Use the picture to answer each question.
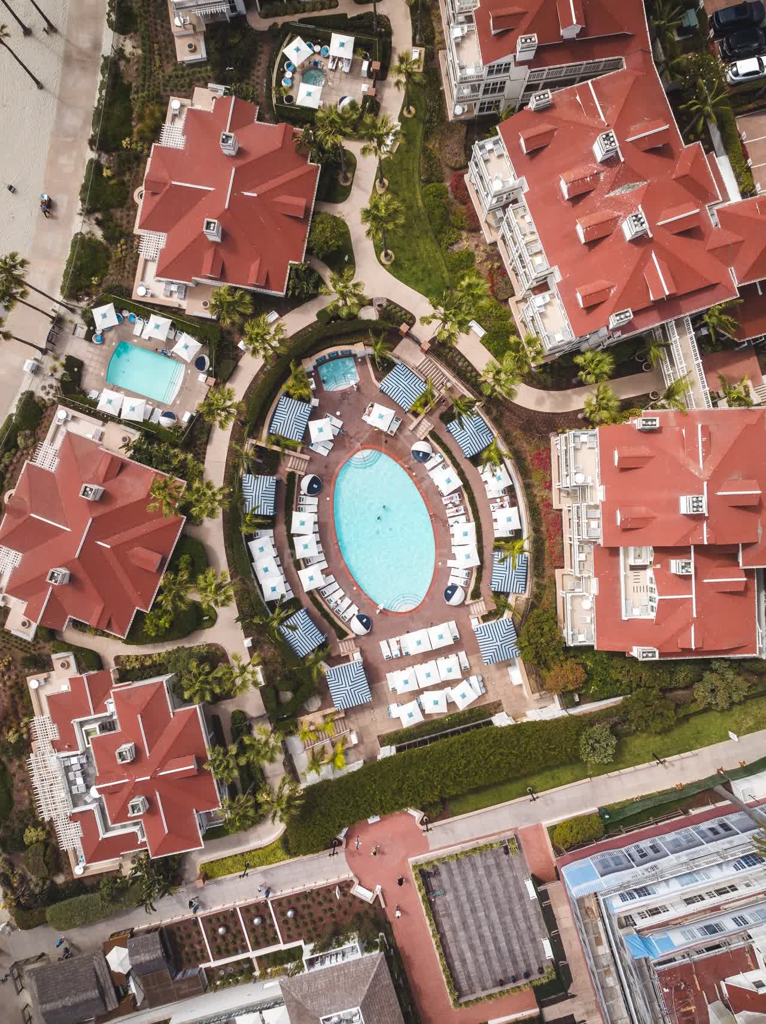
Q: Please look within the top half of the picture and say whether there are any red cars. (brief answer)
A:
No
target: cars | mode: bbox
[719,36,766,65]
[725,57,766,86]
[710,3,761,35]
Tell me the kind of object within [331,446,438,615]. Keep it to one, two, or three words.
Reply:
swimming pool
